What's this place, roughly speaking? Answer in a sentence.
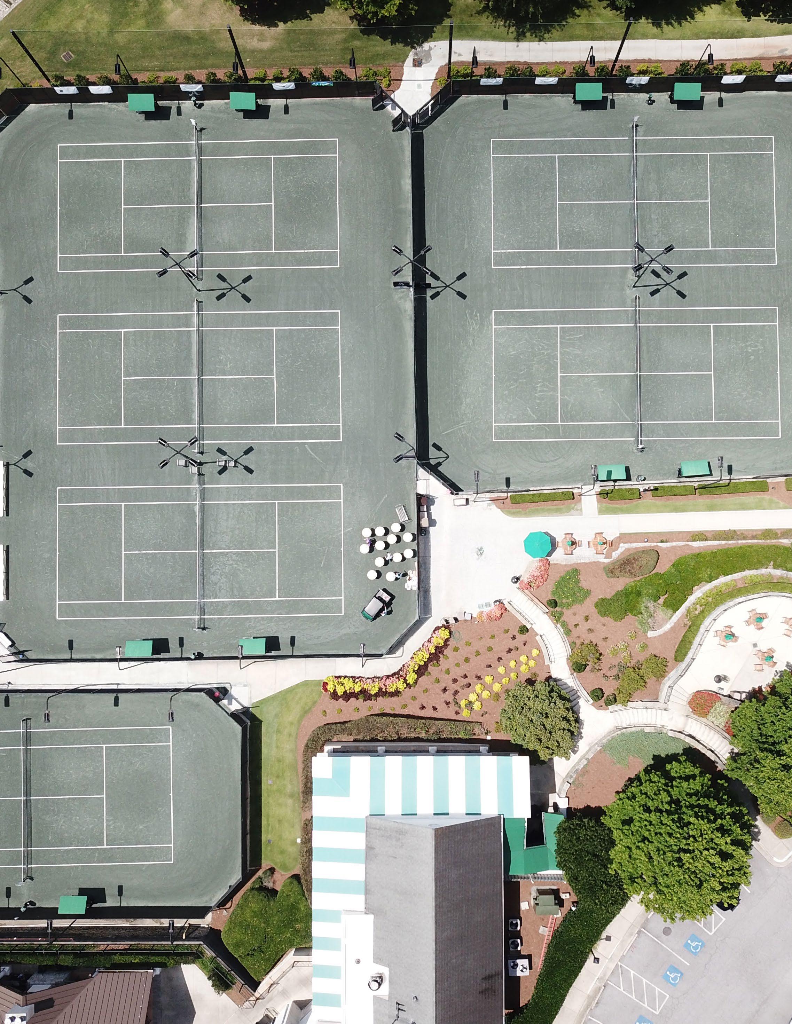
This looks like a sports ground.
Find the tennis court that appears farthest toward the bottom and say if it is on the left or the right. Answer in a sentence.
You can find the tennis court that appears farthest toward the bottom on the left side of the picture.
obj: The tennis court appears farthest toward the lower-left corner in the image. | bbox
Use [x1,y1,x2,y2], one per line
[0,705,226,887]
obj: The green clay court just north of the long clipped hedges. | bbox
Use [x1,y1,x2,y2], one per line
[440,287,792,462]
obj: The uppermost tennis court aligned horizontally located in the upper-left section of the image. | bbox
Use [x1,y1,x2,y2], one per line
[6,118,391,293]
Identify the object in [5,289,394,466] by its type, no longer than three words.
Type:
tennis court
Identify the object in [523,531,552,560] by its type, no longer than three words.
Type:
umbrella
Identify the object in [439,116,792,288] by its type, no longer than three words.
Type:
tennis court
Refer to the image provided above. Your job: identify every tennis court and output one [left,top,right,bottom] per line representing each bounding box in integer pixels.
[439,116,792,288]
[6,118,391,293]
[4,462,397,641]
[0,705,226,887]
[440,287,792,462]
[5,289,394,466]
